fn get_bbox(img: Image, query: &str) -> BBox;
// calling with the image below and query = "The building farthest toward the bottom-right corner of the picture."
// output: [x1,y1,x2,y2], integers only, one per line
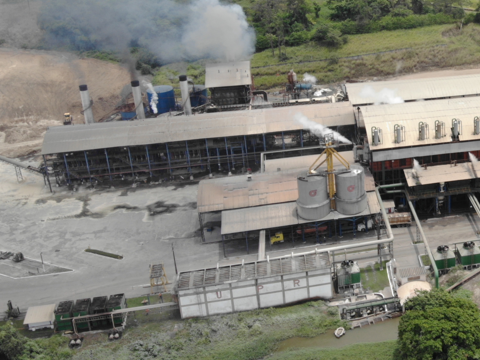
[397,264,437,321]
